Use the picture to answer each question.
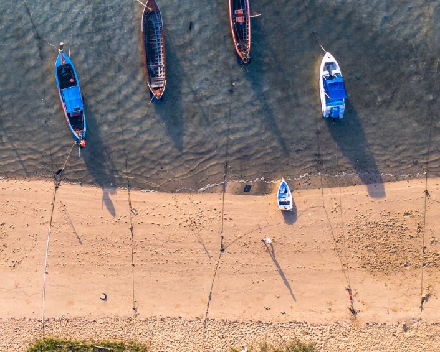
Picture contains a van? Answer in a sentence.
No, the frame has no van in it.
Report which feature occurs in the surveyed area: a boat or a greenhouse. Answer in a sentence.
Looking from above, you can make out a boat.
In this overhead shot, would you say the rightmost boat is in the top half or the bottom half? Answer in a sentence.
Seen from above, the rightmost boat lies in the top half of the view.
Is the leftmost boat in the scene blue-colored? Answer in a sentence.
Yes, the leftmost boat appears blue.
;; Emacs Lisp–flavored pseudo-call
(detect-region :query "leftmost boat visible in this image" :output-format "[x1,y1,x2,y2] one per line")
[55,43,88,159]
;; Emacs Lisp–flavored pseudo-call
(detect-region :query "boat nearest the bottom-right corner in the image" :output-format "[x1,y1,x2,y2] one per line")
[275,179,292,211]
